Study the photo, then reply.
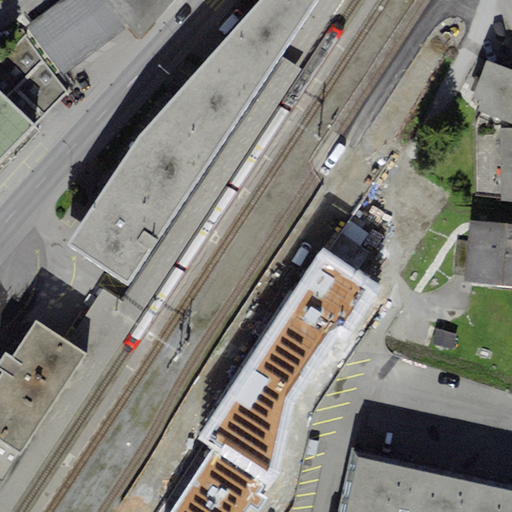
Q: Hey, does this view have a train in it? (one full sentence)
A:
Yes, a train can be made out from above.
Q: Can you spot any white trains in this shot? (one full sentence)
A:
Yes, a white train appears in the view.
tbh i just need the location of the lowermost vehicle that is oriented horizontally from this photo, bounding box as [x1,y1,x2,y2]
[439,374,460,386]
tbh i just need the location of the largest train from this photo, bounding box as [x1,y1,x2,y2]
[128,24,343,344]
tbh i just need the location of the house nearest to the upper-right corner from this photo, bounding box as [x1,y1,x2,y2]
[471,61,512,132]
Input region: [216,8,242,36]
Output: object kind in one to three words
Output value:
truck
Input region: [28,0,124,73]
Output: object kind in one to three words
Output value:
building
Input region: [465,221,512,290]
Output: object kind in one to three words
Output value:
house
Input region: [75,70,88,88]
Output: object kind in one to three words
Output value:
vehicle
